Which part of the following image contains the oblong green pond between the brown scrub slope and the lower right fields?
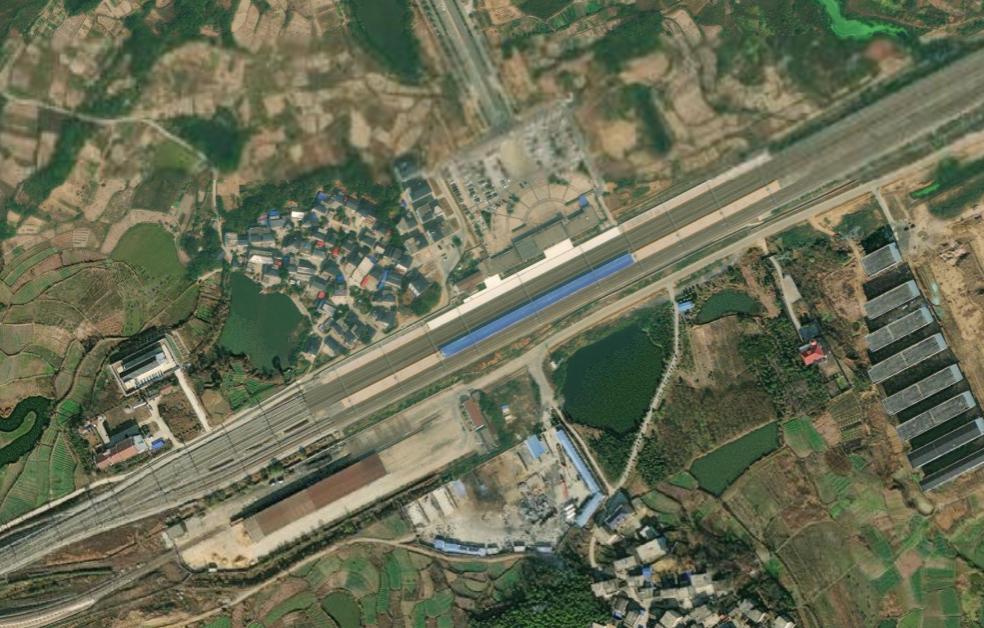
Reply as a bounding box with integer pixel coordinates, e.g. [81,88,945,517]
[688,422,778,497]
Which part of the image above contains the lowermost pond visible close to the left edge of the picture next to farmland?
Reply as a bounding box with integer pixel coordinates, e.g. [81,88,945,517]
[0,397,53,470]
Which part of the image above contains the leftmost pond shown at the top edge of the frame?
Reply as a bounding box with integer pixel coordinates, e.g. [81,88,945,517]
[356,0,417,83]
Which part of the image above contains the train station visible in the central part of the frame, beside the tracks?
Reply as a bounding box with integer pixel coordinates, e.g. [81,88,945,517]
[279,154,784,406]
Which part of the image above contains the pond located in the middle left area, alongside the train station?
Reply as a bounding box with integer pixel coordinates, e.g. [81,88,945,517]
[219,272,307,374]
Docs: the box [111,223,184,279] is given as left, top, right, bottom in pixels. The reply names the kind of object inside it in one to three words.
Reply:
pond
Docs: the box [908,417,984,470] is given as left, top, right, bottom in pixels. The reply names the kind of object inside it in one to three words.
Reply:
shed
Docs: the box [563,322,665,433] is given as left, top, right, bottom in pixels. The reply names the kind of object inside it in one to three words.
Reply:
pond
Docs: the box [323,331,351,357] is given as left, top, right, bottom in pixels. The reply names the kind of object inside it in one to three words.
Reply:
house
